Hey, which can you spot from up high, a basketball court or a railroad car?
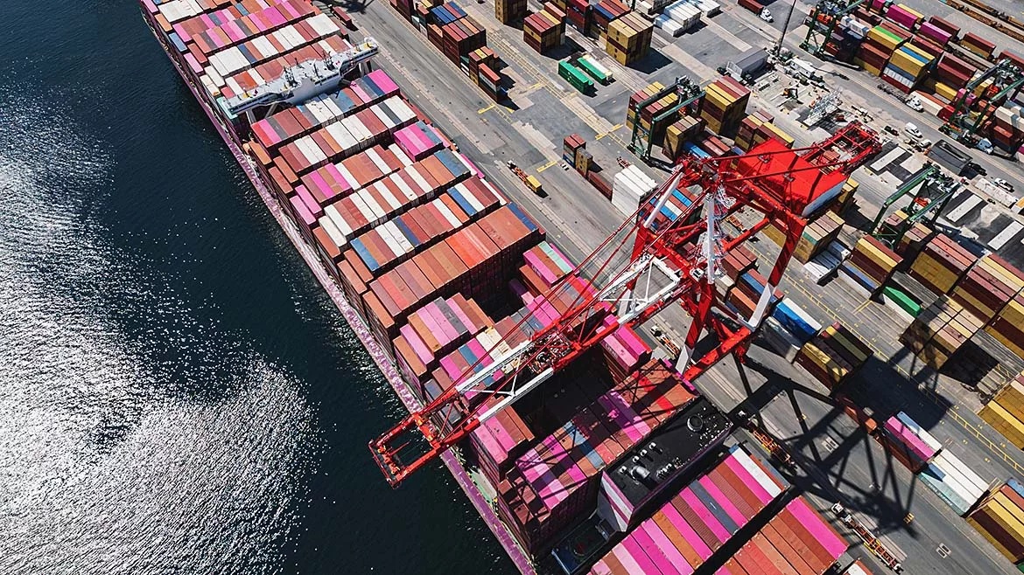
railroad car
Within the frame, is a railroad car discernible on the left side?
No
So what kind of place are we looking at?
port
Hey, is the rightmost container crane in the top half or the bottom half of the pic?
top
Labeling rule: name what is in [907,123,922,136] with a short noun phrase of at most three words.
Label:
vehicle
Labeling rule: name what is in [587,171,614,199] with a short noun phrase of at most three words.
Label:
shipping container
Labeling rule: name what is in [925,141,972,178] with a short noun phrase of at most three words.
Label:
shed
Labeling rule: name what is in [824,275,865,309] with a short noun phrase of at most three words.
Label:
shipping container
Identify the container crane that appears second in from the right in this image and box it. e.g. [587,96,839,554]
[860,169,960,249]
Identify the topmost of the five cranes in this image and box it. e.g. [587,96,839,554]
[801,0,872,56]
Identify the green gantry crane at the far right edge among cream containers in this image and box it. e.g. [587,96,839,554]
[939,64,1024,143]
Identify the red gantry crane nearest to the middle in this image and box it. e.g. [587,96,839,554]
[356,118,891,490]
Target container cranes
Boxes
[860,169,960,249]
[801,0,872,56]
[628,80,705,159]
[939,64,1024,143]
[356,118,891,490]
